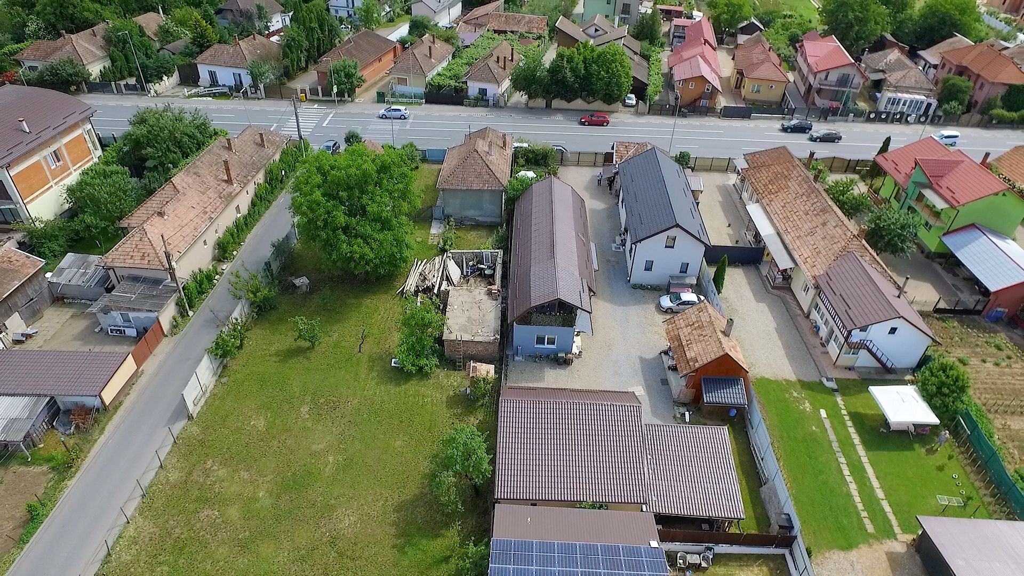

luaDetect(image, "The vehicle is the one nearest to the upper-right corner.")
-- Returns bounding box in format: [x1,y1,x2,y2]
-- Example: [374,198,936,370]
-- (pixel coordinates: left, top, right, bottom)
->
[929,128,969,145]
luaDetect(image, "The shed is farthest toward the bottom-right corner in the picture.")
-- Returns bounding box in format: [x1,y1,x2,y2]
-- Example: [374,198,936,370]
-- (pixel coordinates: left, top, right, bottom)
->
[911,516,1024,576]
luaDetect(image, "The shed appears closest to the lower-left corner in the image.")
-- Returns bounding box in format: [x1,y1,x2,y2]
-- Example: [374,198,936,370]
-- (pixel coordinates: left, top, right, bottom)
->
[0,396,57,455]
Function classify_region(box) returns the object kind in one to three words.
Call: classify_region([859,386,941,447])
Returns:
gazebo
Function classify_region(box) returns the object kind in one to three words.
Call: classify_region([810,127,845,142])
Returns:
car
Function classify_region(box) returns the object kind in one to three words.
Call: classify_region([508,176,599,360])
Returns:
house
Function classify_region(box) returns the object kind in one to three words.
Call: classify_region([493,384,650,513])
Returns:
barn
